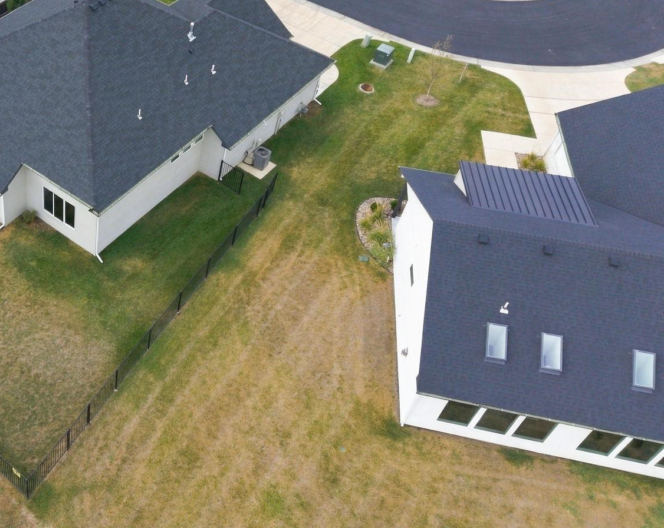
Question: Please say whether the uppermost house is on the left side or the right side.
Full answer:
It is on the left.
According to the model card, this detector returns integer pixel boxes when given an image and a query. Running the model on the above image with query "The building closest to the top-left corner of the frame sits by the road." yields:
[0,0,340,268]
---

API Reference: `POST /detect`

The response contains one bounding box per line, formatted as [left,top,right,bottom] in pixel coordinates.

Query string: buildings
[393,95,664,475]
[0,0,340,268]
